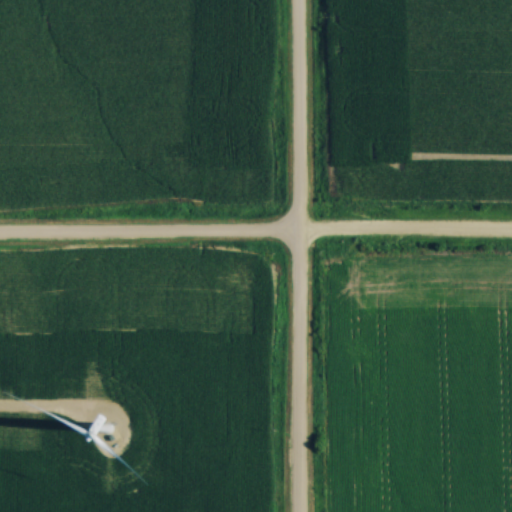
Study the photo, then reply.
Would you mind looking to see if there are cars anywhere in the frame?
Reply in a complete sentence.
No, the photo shows no car.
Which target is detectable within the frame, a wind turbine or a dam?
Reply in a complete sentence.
I can see a wind turbine in this picture.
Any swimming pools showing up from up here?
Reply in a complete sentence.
No, I can see no swimming pool in this picture.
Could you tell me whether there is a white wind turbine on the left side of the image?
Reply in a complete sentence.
Yes, you'll find a white wind turbine on the left side of the image.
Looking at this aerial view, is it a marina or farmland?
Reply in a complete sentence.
What you see here is farmland.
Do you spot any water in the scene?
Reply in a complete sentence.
No, no water is visible.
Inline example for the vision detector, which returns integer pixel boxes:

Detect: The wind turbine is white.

[5,390,148,486]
